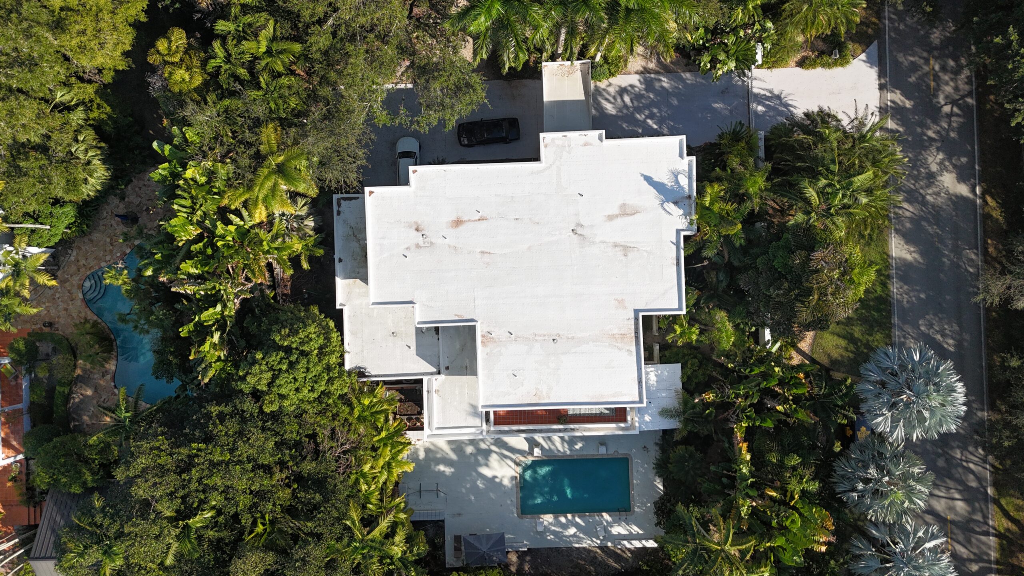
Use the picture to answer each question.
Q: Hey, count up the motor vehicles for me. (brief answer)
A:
2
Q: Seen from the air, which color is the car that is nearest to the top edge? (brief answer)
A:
black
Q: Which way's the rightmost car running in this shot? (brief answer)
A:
from side to side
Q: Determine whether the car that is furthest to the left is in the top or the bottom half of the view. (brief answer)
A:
top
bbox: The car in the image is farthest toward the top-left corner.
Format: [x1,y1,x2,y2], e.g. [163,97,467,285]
[393,138,423,186]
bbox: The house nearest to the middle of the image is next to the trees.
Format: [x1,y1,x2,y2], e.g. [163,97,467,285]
[333,60,696,440]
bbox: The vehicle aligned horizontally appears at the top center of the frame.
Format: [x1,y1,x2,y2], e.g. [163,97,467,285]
[457,117,520,148]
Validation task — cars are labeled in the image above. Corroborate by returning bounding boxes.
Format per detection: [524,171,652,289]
[393,138,423,186]
[457,117,520,148]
